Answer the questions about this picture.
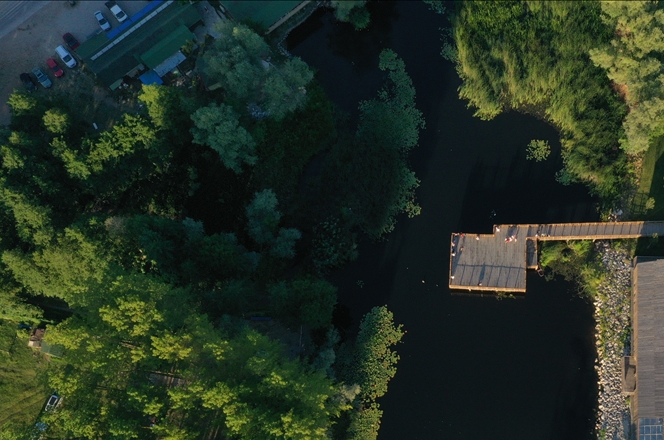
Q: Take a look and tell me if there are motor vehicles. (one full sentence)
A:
Yes, you can see a motor vehicle in this photo.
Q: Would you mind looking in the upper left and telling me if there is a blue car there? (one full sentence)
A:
Yes, a blue car appears in the upper left.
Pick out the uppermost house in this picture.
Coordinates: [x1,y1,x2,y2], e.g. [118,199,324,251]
[225,0,310,40]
